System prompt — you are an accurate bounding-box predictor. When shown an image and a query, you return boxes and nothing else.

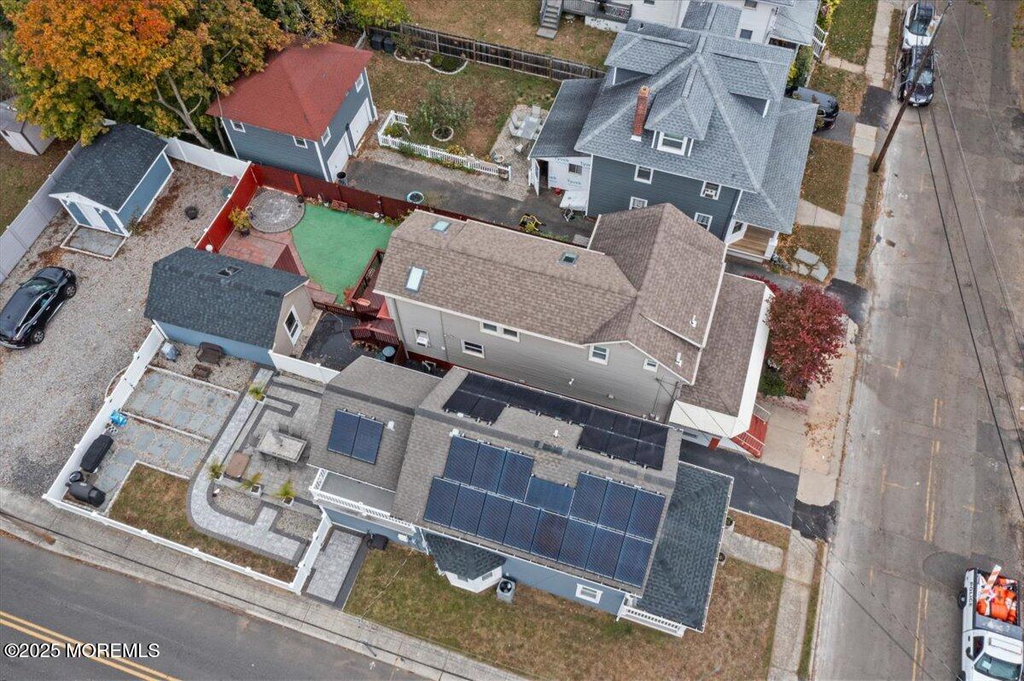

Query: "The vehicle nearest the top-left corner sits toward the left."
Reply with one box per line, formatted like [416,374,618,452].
[0,265,78,353]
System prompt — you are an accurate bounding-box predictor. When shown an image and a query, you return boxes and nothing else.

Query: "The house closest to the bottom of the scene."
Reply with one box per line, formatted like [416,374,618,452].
[299,355,736,641]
